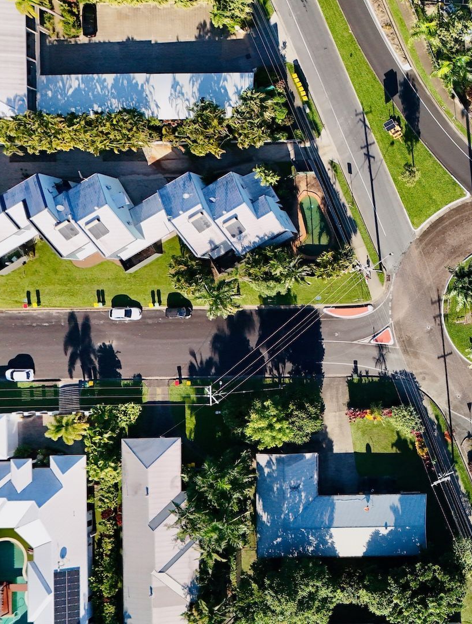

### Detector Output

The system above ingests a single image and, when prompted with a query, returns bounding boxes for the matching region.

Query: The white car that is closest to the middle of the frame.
[109,307,141,322]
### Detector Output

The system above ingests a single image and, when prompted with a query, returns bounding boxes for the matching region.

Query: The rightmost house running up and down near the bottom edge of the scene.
[122,437,208,624]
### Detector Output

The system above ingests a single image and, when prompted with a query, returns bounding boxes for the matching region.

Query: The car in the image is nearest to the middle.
[159,305,198,322]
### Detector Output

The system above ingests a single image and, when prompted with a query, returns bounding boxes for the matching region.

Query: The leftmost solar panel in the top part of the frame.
[59,222,79,240]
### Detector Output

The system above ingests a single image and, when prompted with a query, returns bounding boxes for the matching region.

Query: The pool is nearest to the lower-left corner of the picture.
[0,539,27,624]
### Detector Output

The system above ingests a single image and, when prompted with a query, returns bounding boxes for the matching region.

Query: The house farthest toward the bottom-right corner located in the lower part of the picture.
[257,450,430,559]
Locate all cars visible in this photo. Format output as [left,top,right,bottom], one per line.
[109,307,141,322]
[159,305,198,322]
[78,3,99,39]
[4,369,37,384]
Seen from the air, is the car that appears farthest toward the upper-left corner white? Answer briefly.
No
